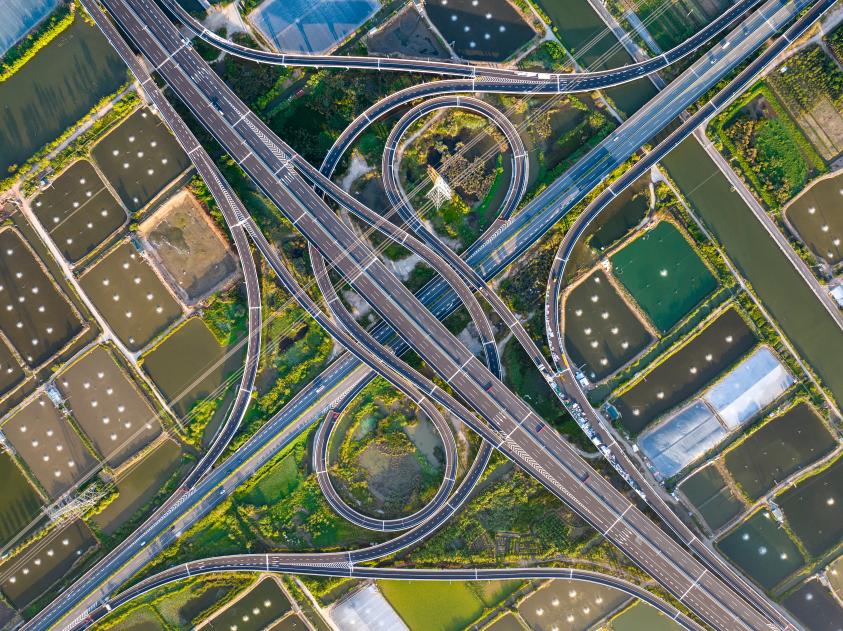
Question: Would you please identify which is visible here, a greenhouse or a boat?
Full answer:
The one in the frame is a greenhouse.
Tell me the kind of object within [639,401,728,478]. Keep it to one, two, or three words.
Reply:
greenhouse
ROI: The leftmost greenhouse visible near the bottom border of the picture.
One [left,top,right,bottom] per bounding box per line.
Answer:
[329,586,408,631]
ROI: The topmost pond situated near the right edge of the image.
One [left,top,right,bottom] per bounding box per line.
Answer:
[783,171,843,266]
